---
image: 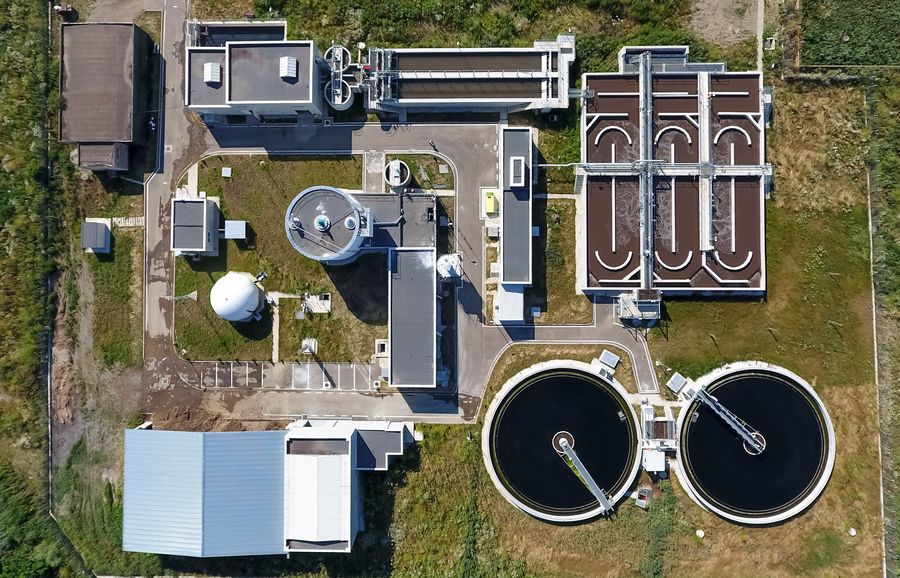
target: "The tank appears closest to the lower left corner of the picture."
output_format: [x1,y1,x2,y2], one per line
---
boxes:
[208,269,267,322]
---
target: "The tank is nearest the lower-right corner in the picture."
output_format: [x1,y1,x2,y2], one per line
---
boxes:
[671,359,834,522]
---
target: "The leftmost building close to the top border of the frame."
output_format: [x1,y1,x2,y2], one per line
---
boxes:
[61,23,149,148]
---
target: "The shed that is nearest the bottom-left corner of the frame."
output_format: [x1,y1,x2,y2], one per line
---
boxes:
[123,418,295,558]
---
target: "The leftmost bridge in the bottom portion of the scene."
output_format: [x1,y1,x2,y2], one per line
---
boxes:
[558,436,613,517]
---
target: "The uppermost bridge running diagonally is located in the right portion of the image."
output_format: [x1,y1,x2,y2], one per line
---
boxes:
[693,385,766,456]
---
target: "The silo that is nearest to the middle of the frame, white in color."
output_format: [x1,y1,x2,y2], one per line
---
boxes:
[437,252,463,287]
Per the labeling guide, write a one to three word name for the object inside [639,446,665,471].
shed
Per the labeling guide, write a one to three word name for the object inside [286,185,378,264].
storage tank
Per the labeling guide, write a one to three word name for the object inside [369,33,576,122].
storage tank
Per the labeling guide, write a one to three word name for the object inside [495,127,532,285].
building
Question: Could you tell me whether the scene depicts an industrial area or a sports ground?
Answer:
industrial area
